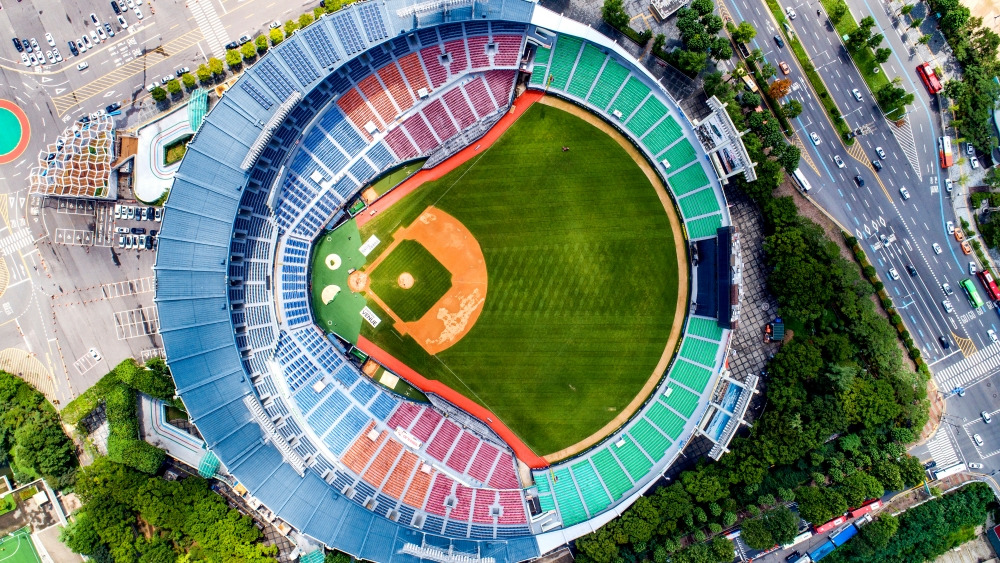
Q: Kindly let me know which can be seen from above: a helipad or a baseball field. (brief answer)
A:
baseball field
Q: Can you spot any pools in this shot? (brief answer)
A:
No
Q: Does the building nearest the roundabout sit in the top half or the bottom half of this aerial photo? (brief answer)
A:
top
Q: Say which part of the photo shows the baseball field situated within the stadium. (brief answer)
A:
center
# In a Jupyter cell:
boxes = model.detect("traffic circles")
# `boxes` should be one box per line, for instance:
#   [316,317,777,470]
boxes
[0,109,21,153]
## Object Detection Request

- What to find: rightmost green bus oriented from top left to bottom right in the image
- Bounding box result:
[962,278,986,306]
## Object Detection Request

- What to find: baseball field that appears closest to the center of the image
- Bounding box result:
[311,88,688,469]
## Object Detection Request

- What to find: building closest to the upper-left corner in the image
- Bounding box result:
[28,111,113,197]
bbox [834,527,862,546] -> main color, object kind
blue vehicle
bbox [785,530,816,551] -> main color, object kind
white bus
